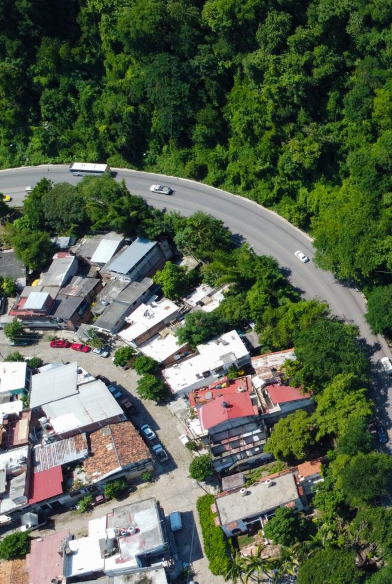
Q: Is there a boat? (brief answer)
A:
No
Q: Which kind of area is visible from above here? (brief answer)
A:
residential area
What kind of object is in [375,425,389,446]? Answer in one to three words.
vehicle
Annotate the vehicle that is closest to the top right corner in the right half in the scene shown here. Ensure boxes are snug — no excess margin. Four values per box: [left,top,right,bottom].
[293,251,311,265]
